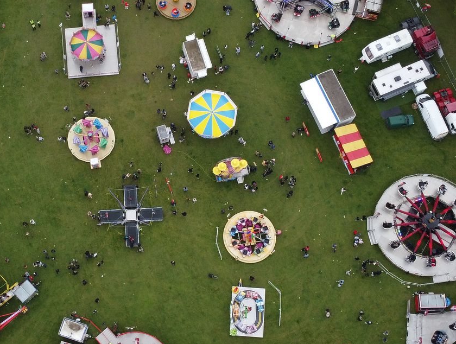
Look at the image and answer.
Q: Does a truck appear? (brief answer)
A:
Yes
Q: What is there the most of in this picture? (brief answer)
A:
grass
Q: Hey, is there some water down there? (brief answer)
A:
No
